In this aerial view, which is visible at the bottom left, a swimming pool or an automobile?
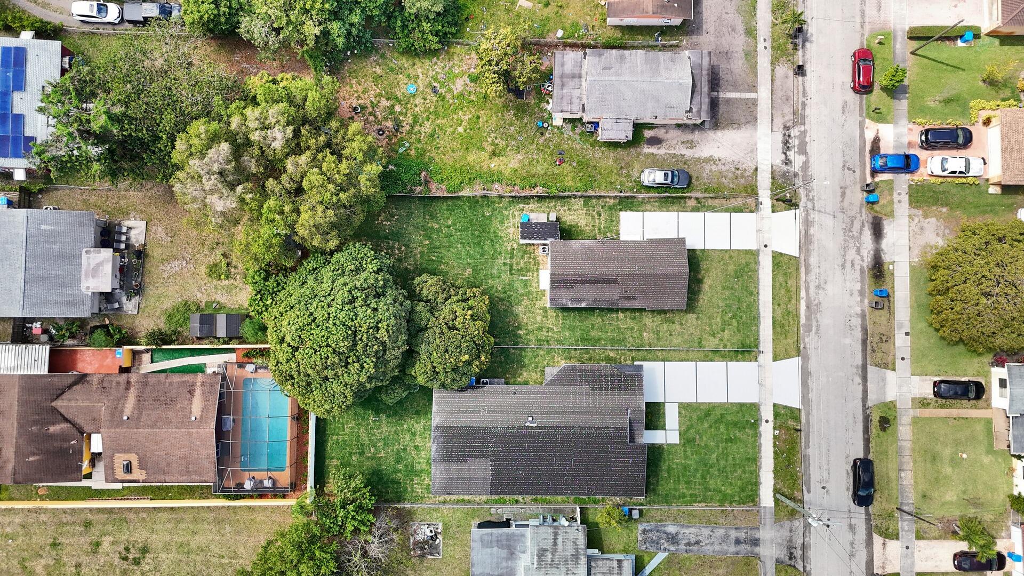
swimming pool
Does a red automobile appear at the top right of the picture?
Yes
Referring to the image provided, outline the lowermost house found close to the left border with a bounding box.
[0,371,225,484]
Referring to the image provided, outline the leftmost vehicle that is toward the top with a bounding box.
[71,0,124,24]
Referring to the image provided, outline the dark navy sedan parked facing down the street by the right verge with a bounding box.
[851,459,877,508]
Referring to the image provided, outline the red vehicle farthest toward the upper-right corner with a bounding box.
[850,48,877,95]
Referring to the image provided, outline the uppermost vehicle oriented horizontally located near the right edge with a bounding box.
[918,125,974,151]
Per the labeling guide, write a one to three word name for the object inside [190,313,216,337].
shed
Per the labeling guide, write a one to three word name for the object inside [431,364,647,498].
house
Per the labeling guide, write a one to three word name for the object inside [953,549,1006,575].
car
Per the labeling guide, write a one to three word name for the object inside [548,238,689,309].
house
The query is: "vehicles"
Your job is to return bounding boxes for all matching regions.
[953,549,1006,575]
[932,378,985,402]
[927,154,985,179]
[871,152,921,175]
[71,0,124,24]
[640,166,689,190]
[851,459,877,508]
[918,125,974,151]
[1016,205,1024,225]
[850,48,877,95]
[123,0,186,26]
